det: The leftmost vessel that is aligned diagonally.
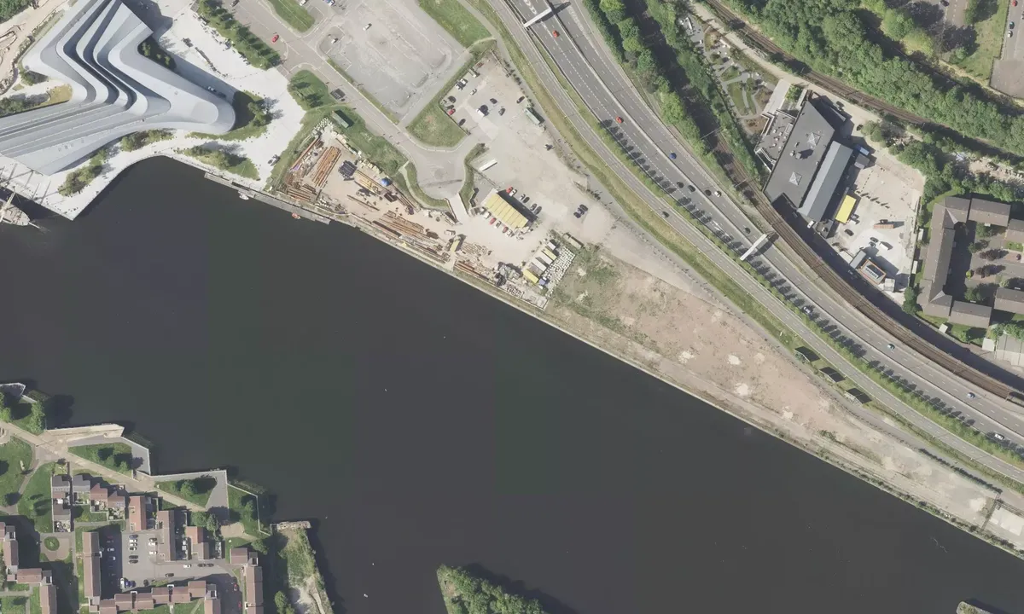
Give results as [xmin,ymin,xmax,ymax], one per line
[0,191,38,228]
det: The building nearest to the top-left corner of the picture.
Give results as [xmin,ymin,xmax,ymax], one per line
[0,0,235,175]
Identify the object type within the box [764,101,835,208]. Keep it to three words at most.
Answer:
building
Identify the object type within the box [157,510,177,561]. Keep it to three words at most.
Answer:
house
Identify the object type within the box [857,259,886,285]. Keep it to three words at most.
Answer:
building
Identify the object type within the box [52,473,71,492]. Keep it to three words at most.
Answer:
house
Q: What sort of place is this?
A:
port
